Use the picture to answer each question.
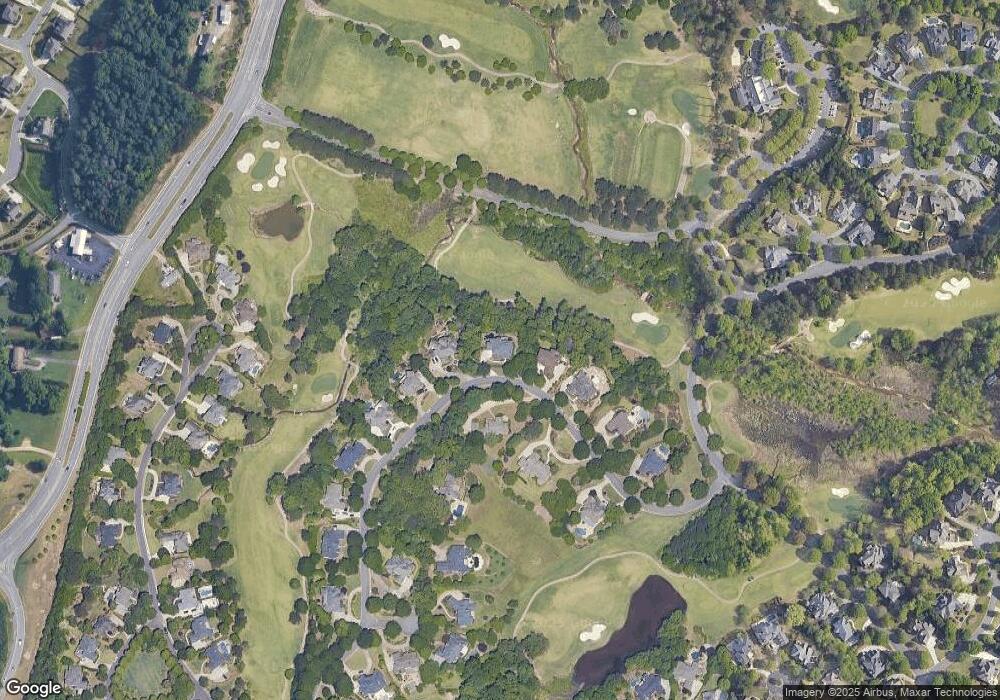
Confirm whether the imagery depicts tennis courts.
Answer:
No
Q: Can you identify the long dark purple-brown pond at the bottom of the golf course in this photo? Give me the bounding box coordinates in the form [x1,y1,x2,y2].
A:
[571,573,687,691]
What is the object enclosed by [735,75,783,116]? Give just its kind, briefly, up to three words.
building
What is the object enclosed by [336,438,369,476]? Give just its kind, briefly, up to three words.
house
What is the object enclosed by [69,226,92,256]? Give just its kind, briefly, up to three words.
building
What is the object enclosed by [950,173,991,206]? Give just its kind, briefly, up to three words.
house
